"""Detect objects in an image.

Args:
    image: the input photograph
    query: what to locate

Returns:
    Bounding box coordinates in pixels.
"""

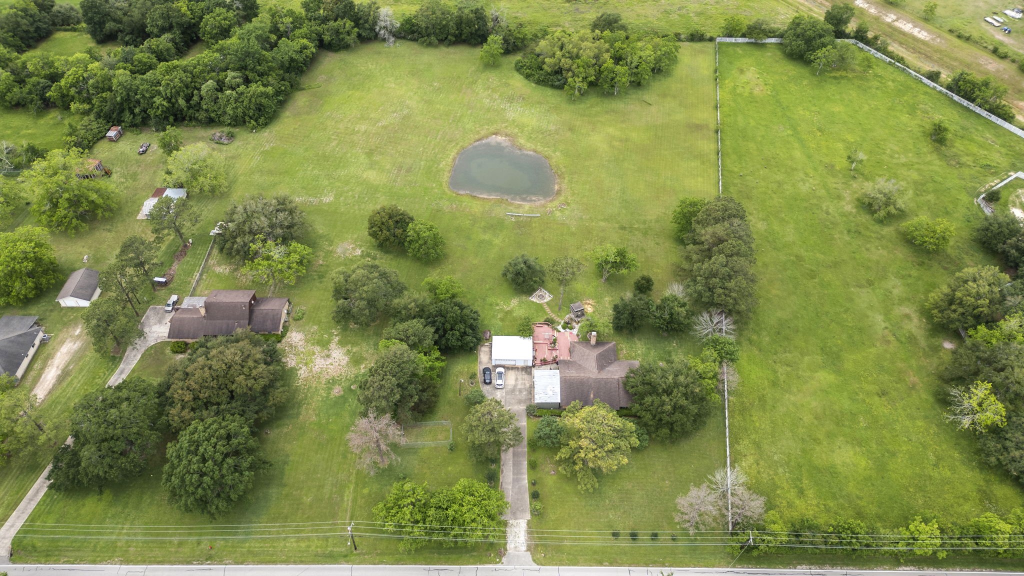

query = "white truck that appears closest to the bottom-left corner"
[160,291,181,314]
